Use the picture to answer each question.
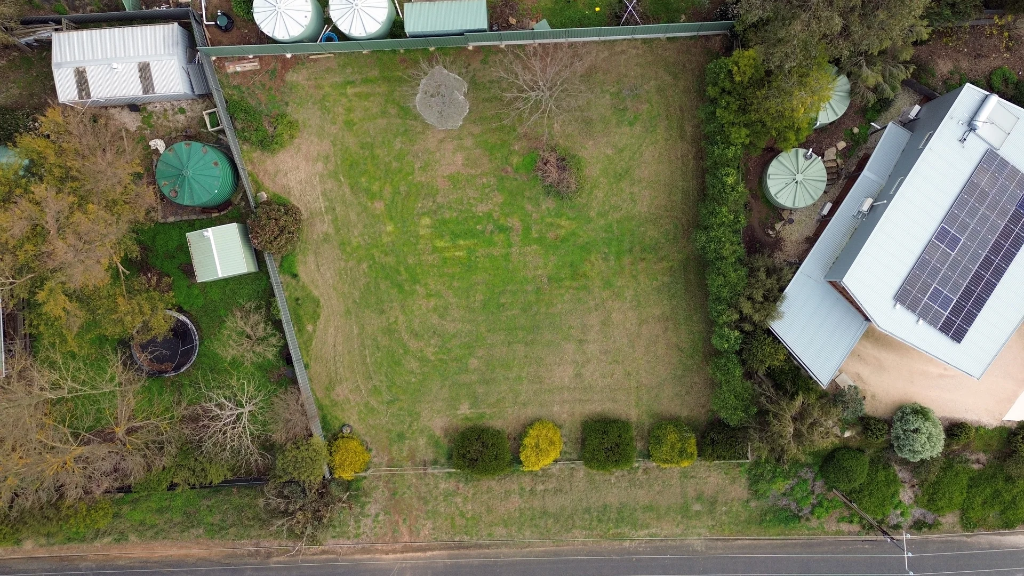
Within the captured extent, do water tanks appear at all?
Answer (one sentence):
Yes, a water tank can be made out from above.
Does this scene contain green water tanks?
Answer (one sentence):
Yes, there's a green water tank here.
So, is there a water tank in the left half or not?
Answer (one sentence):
Yes, I can see a water tank in the left half.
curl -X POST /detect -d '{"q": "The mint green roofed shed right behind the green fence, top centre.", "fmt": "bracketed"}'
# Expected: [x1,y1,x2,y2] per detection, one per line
[403,0,488,38]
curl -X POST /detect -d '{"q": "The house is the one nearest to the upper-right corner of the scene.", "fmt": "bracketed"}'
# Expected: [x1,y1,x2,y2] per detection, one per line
[759,82,1024,388]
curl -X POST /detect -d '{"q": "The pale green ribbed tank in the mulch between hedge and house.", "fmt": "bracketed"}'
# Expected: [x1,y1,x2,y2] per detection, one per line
[758,148,826,210]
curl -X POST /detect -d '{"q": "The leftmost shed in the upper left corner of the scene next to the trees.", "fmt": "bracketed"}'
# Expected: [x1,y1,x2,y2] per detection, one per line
[50,21,198,110]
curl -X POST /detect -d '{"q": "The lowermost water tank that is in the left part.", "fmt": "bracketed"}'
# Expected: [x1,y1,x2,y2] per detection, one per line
[155,141,234,208]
